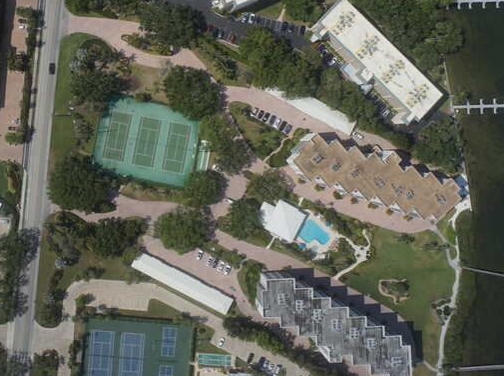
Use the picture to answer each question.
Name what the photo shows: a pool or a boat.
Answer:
pool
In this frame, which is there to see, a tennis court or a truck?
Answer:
tennis court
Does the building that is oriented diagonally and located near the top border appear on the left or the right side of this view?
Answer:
right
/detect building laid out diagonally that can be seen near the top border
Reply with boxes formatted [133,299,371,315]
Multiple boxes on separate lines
[306,0,442,121]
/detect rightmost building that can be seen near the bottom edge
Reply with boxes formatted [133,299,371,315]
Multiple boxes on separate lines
[257,271,413,376]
